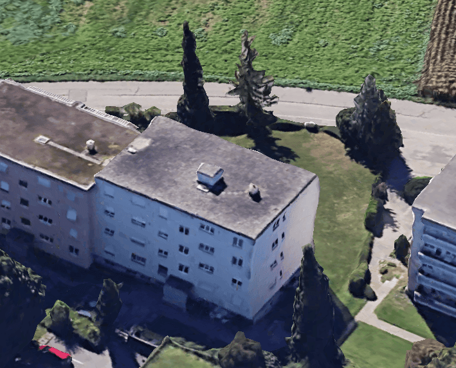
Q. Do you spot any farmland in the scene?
Yes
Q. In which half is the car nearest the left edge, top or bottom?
bottom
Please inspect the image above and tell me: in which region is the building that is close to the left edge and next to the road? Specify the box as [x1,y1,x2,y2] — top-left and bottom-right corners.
[0,80,150,271]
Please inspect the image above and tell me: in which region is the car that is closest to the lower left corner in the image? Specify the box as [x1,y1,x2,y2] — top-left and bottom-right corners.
[34,344,73,368]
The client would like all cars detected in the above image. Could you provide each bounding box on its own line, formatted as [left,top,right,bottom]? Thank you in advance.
[71,293,98,315]
[34,344,73,368]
